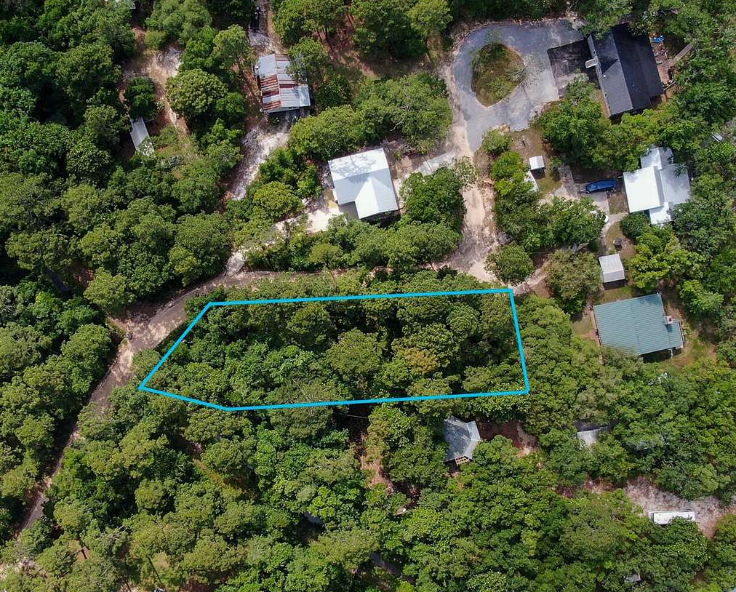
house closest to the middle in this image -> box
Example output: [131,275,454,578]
[328,148,397,217]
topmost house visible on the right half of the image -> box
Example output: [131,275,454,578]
[577,29,666,116]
